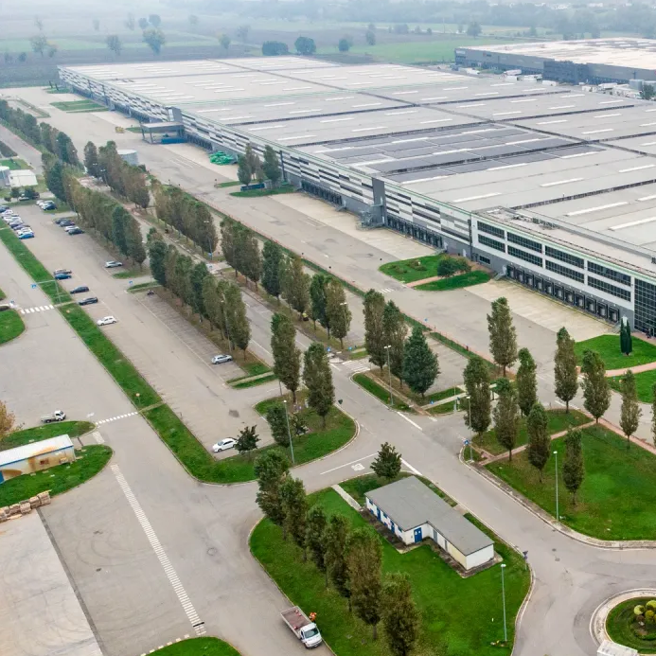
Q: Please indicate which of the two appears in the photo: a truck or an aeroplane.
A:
truck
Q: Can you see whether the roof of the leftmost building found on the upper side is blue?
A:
No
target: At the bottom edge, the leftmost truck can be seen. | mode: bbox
[283,605,316,639]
